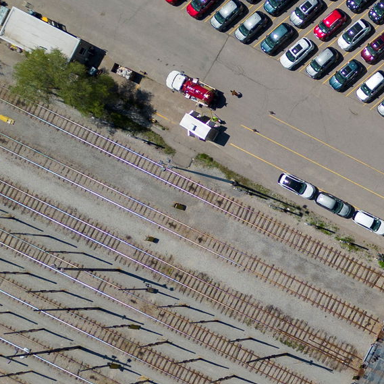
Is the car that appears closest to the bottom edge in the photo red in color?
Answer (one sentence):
No, the color of the car that appears closest to the bottom edge is white.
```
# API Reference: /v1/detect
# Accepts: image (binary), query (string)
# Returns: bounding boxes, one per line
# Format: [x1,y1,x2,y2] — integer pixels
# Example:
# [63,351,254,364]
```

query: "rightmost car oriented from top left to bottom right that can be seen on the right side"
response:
[352,208,384,237]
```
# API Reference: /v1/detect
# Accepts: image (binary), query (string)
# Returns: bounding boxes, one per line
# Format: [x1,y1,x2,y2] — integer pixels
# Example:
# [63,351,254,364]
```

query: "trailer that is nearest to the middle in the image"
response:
[184,108,224,139]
